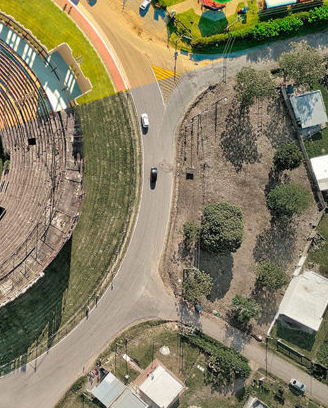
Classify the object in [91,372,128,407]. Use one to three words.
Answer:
house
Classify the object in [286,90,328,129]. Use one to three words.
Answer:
house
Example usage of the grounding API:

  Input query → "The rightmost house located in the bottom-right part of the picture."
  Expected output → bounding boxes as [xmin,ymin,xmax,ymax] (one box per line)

[275,271,328,333]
